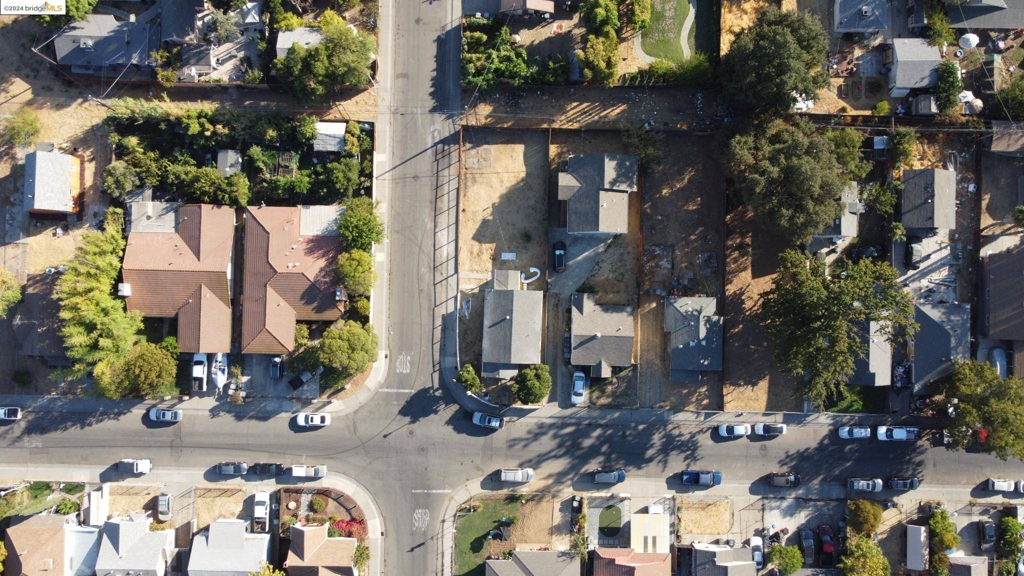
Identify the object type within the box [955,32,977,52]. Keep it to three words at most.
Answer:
umbrella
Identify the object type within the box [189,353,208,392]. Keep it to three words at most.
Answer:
vehicle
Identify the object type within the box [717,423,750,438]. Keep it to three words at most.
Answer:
car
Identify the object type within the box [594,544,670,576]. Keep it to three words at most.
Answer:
house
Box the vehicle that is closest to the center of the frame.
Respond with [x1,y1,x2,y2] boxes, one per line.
[552,241,568,272]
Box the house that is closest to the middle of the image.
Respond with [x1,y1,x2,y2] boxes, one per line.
[482,270,543,379]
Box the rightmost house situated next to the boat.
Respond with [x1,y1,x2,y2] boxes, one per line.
[242,206,346,354]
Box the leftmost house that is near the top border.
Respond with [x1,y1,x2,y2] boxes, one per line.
[54,15,162,81]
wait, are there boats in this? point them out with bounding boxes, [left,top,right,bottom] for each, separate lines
[210,353,226,391]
